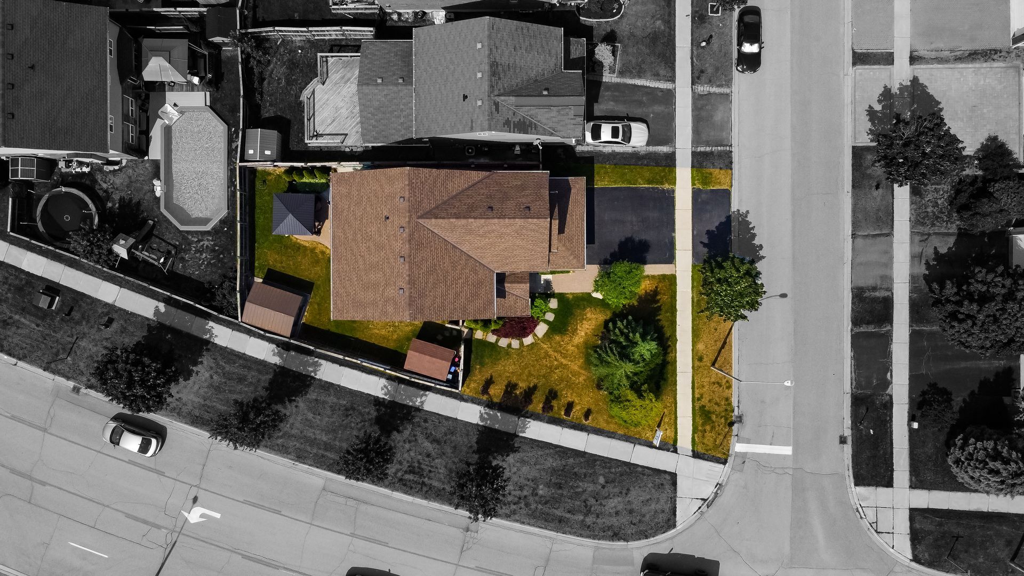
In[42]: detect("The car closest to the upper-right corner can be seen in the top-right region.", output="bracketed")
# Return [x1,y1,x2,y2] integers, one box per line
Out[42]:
[737,5,769,73]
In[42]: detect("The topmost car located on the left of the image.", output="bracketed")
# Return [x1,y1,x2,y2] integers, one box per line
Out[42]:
[103,422,165,459]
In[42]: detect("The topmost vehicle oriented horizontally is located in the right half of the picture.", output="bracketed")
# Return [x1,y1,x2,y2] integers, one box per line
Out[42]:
[586,116,649,146]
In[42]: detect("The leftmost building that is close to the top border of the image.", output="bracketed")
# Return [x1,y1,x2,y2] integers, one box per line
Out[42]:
[0,0,155,168]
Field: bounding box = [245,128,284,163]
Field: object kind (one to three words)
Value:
shed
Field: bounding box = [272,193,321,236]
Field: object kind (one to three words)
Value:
gazebo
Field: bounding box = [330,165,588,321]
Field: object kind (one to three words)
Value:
house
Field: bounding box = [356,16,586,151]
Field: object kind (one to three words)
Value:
house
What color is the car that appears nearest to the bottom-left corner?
white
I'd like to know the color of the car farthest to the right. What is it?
black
